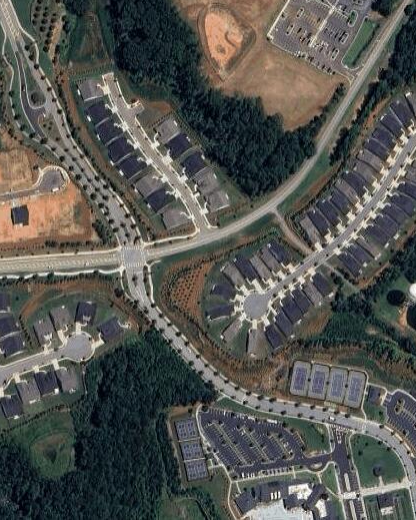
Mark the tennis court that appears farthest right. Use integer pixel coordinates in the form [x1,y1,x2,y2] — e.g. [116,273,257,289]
[346,370,366,407]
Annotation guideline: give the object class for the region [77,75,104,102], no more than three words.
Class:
house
